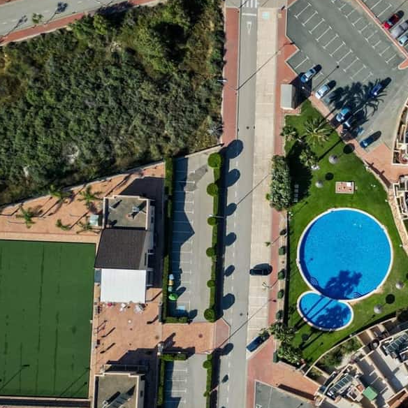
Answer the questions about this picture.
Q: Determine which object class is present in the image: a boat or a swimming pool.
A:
swimming pool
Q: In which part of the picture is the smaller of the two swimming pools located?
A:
bottom right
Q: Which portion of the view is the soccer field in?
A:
bottom left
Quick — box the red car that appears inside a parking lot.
[382,13,398,29]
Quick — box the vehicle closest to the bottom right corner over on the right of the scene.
[249,332,267,348]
